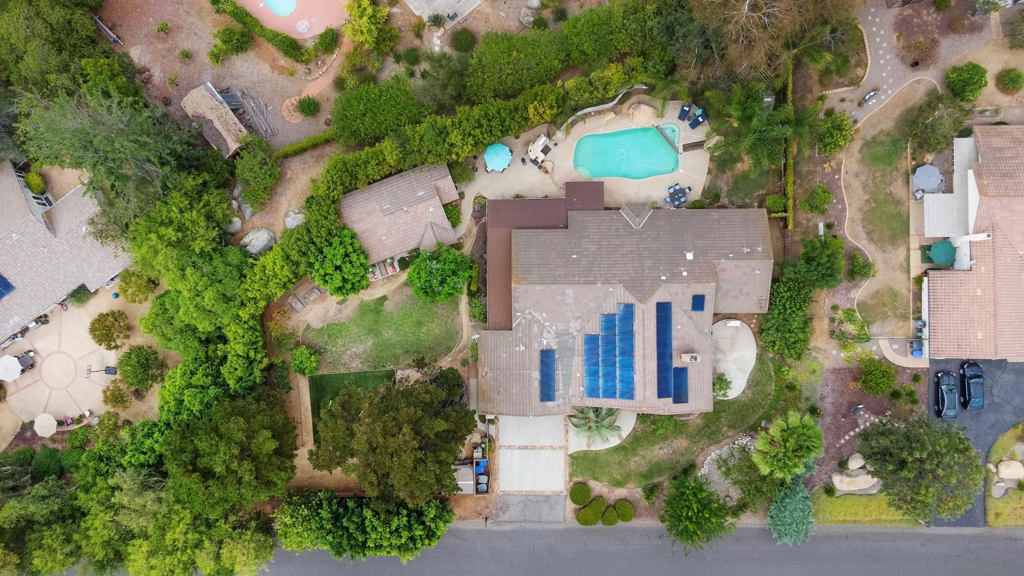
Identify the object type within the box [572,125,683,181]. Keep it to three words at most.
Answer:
swimming pool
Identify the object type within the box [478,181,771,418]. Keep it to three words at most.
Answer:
house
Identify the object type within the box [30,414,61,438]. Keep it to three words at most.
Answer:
umbrella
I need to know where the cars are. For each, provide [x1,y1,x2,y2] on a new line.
[932,369,959,419]
[957,360,985,410]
